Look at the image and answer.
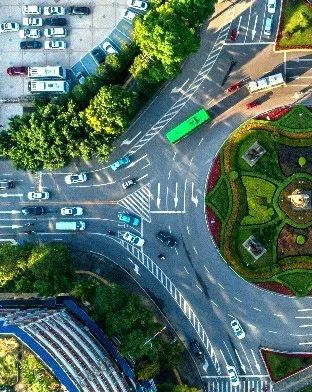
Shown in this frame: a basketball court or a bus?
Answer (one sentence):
There is a bus in the scene.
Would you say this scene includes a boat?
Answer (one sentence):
No, I can't see a single boat in this photo.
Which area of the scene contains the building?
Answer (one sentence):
The building is in the bottom left part of the image.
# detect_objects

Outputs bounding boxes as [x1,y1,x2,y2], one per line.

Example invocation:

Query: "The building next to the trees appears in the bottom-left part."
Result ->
[0,292,143,392]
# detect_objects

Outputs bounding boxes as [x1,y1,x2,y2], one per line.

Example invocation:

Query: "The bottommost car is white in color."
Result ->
[225,364,241,388]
